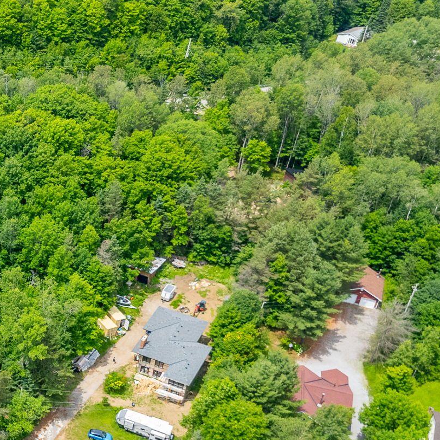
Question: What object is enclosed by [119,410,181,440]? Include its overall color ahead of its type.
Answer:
white vehicle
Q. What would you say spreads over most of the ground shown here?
trees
